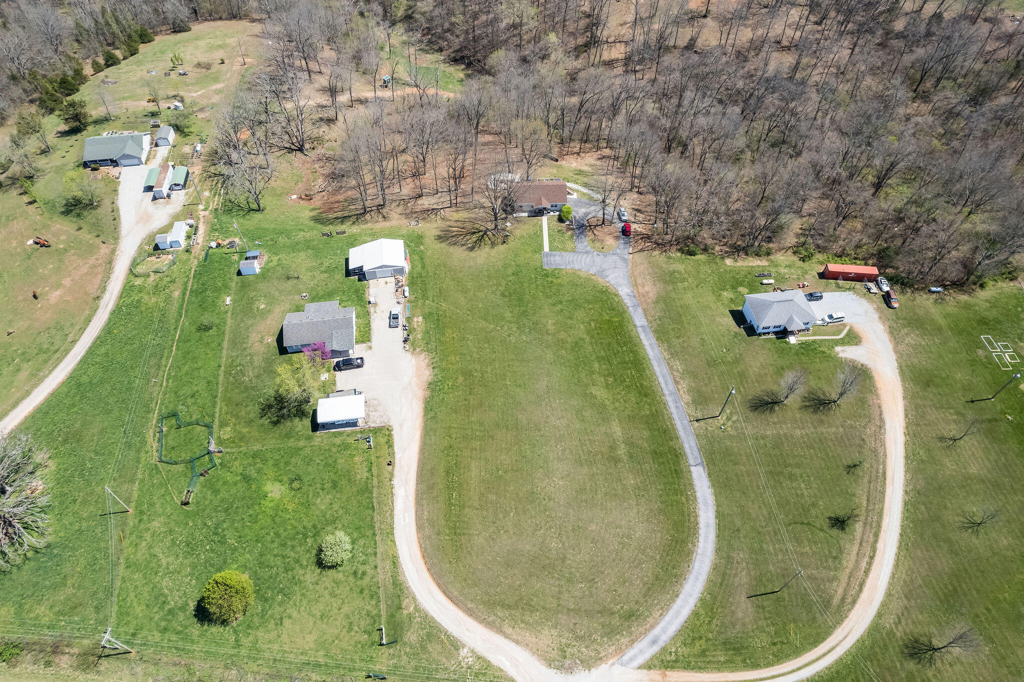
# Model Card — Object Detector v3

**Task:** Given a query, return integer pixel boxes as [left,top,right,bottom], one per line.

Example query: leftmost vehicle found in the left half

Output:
[30,235,52,249]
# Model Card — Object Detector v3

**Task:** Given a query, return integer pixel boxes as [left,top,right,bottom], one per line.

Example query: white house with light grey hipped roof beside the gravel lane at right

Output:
[743,289,819,340]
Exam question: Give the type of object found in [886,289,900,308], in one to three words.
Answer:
car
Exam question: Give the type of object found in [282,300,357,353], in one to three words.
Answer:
house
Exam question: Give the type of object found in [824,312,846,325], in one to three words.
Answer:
vehicle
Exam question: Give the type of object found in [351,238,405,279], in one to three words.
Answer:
barn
